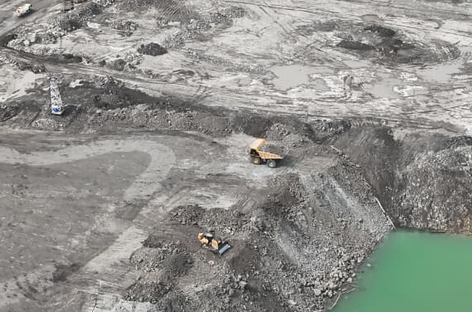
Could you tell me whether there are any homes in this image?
No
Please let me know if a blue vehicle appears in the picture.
No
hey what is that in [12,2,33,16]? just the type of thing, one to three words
vehicle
